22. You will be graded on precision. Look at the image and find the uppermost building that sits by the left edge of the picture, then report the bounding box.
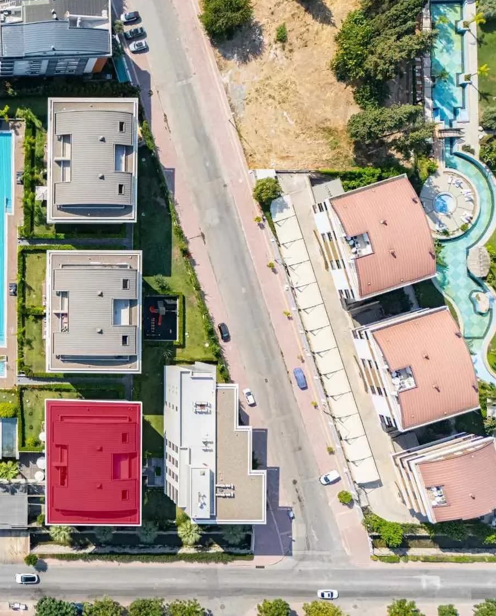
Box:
[0,0,111,78]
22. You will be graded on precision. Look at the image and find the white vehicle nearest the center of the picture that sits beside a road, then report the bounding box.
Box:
[243,388,256,407]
